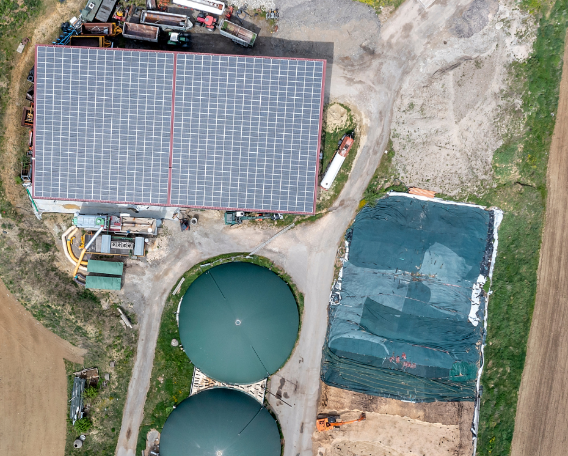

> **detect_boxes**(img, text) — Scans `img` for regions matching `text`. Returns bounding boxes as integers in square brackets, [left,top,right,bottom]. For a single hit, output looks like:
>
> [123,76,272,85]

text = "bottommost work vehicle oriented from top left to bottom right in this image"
[173,213,191,233]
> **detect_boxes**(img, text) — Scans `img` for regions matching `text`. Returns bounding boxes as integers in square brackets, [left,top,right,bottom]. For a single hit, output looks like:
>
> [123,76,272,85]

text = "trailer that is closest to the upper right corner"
[320,133,352,188]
